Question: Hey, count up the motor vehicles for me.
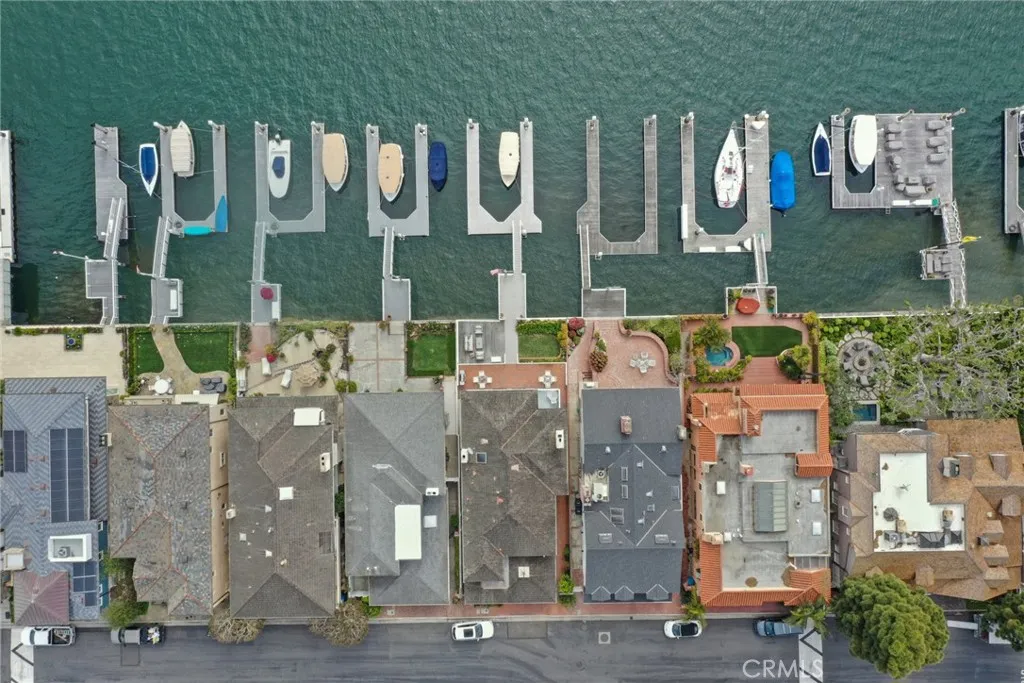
5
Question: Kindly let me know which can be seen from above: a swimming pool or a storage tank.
swimming pool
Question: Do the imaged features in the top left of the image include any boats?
Yes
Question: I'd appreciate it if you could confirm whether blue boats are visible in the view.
Yes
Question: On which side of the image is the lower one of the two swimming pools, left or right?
right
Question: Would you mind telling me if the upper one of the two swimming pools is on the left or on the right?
right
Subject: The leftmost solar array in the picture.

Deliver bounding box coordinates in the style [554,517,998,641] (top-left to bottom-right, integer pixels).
[3,431,26,472]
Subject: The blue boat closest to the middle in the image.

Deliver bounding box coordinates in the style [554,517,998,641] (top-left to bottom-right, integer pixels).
[429,141,448,192]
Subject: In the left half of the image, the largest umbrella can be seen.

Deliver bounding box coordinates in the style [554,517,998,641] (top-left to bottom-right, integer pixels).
[297,364,320,387]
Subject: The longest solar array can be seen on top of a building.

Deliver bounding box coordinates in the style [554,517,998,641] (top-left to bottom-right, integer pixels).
[51,429,84,522]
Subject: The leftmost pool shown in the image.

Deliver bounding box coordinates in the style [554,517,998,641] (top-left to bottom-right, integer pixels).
[705,342,737,369]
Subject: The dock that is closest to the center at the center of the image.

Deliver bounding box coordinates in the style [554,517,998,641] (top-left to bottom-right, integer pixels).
[498,273,526,320]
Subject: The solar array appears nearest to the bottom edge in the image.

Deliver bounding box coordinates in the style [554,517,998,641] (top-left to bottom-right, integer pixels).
[73,562,97,606]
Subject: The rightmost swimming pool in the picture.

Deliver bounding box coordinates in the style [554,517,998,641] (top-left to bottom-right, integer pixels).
[852,403,878,424]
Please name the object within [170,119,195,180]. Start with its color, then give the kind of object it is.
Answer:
white boat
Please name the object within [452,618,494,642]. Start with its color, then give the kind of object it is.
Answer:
white car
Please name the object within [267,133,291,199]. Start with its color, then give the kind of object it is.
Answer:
white boat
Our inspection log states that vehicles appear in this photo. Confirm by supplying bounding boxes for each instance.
[663,617,701,640]
[452,618,494,642]
[753,614,801,638]
[23,623,78,648]
[113,623,167,648]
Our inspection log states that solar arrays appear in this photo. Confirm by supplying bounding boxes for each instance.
[51,429,84,522]
[3,431,26,472]
[73,562,97,606]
